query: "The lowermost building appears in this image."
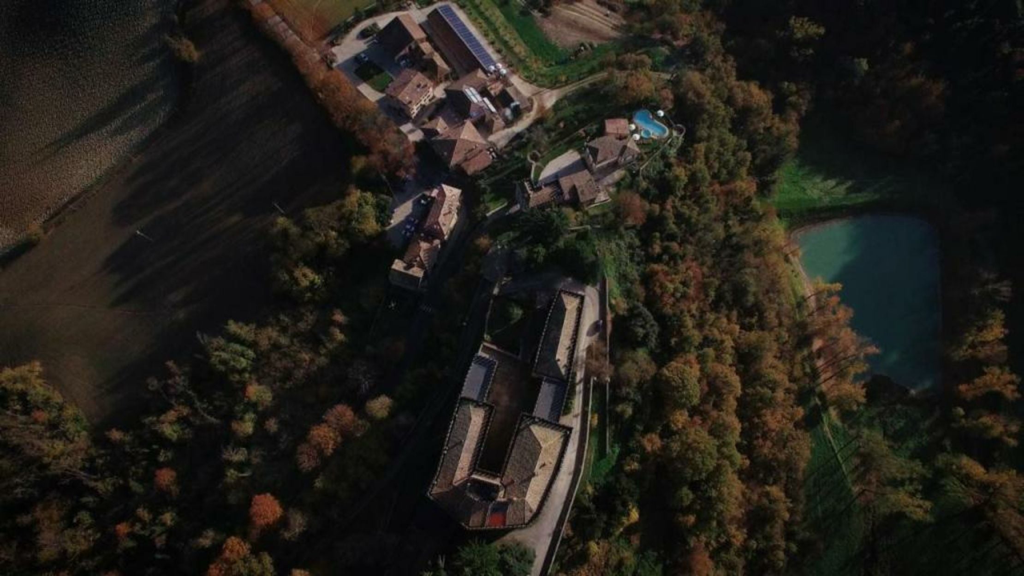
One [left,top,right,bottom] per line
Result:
[428,289,585,530]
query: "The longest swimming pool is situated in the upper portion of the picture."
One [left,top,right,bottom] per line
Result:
[633,109,669,139]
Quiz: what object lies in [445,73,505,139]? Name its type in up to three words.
building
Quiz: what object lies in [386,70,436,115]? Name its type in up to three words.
house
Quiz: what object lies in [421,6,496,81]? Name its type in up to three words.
barn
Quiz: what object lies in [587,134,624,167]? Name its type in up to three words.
house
